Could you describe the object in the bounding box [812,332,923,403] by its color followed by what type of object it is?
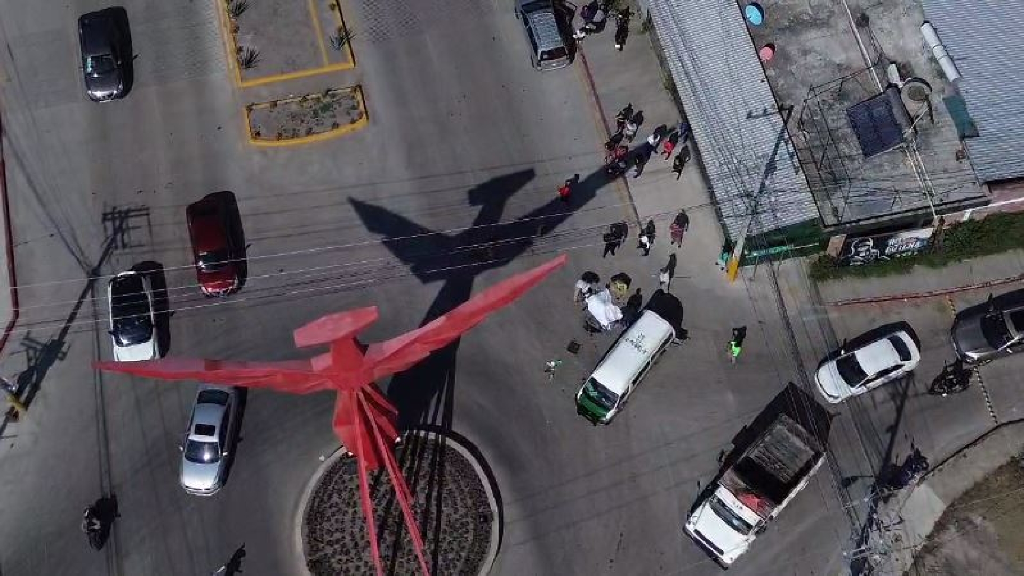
white car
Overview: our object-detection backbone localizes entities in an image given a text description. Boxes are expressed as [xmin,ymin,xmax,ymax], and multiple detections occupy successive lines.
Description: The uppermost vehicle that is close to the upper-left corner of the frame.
[79,21,129,105]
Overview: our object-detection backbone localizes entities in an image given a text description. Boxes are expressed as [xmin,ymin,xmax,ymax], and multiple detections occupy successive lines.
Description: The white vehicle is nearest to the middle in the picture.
[576,307,685,431]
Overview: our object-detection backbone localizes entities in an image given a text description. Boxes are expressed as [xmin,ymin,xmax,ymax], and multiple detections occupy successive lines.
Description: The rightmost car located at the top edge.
[516,0,576,75]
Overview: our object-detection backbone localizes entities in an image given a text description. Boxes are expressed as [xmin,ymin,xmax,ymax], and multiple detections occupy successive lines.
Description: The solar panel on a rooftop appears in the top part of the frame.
[847,88,905,162]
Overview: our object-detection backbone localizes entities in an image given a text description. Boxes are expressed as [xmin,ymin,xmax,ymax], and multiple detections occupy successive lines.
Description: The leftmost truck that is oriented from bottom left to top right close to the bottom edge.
[682,386,835,568]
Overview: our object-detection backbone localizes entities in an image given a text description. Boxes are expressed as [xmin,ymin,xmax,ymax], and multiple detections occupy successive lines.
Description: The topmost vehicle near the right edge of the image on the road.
[946,298,1024,367]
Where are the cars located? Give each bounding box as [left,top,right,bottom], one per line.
[187,206,241,300]
[105,277,161,365]
[946,298,1024,367]
[177,389,236,497]
[812,332,923,403]
[79,21,129,105]
[516,0,576,75]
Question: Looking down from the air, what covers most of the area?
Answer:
paved ground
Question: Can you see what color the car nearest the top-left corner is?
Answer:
black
